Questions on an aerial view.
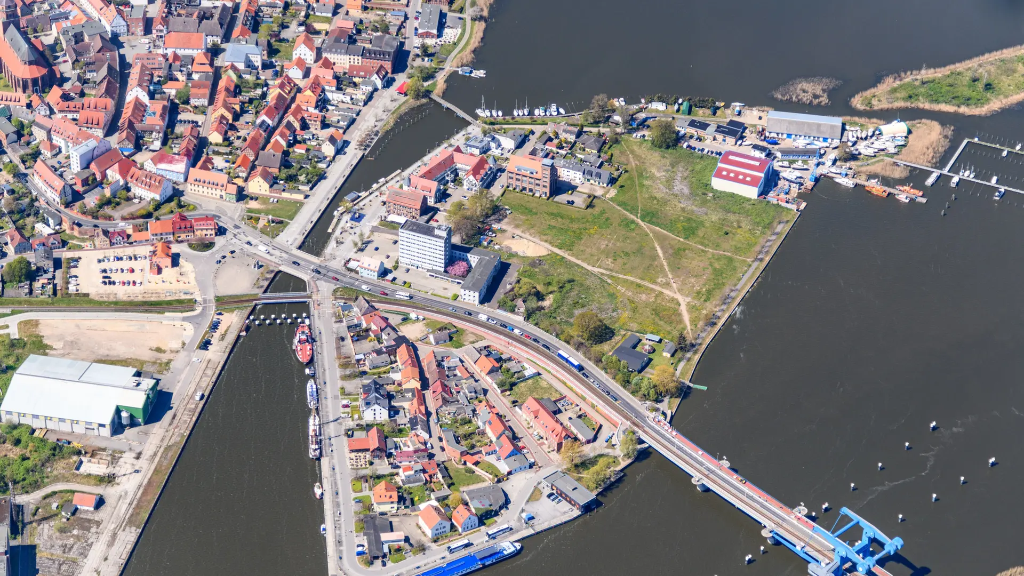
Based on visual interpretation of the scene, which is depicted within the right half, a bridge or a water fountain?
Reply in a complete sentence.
Looking within the right half, you will find a bridge.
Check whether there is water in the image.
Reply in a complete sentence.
Yes, water can be seen from above here.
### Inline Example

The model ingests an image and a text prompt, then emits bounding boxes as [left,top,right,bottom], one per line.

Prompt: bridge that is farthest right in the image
[631,419,906,576]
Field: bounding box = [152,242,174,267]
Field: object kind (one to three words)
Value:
house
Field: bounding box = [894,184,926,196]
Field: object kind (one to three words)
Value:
vessel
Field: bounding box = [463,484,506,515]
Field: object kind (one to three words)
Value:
building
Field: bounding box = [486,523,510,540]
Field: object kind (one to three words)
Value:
vehicle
